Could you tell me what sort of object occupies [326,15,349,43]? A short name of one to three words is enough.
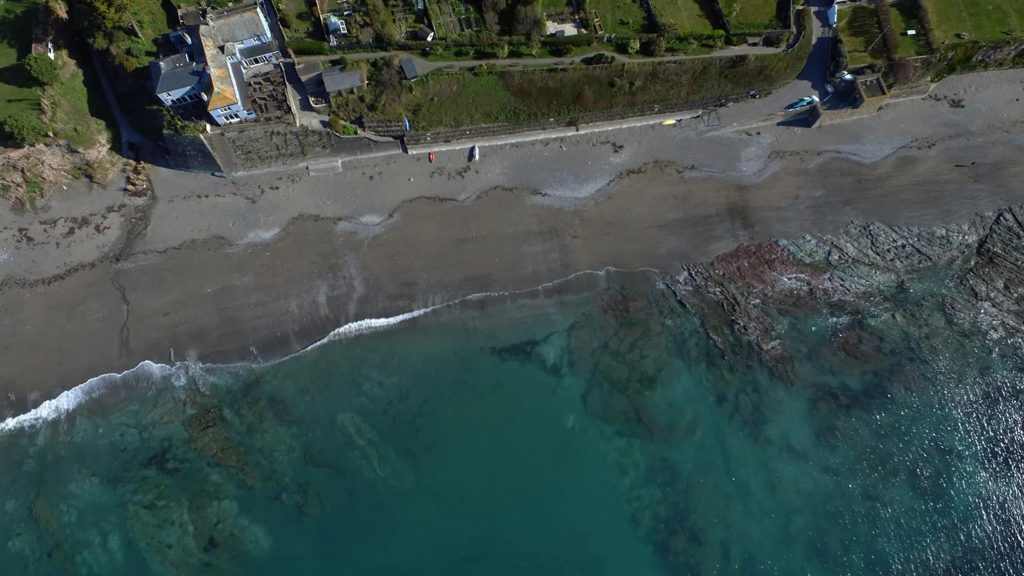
house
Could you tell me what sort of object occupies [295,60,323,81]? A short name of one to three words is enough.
building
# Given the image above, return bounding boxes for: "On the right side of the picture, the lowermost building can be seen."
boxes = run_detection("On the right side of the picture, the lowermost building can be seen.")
[848,76,891,111]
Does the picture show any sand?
Yes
